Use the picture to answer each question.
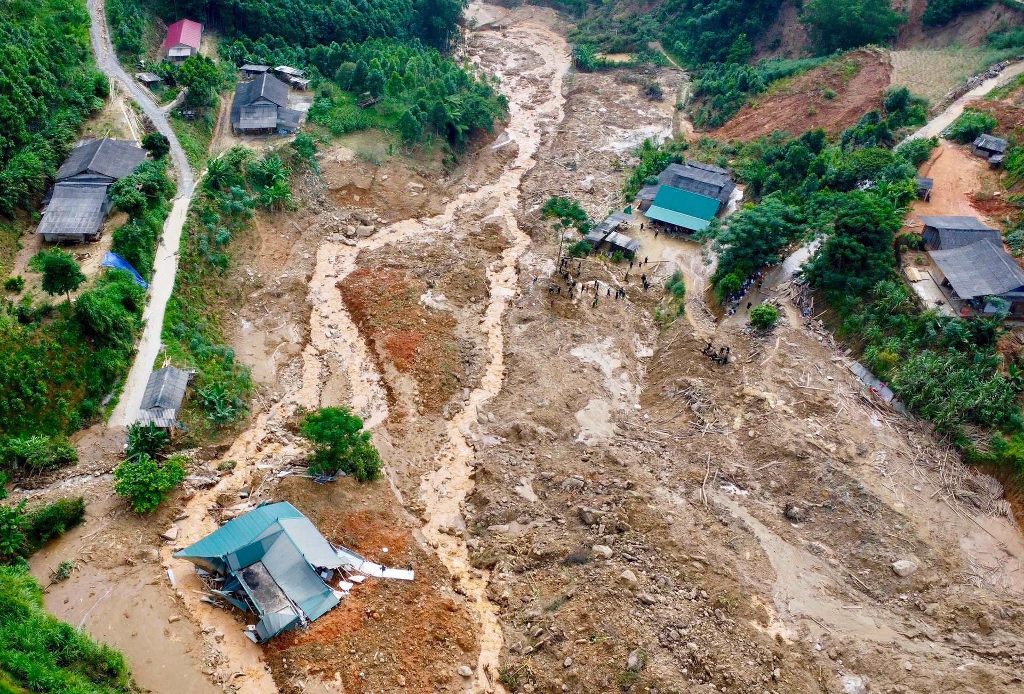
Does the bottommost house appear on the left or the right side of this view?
left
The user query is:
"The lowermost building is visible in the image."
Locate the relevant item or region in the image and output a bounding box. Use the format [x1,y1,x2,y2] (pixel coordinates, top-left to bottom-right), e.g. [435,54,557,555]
[173,501,359,643]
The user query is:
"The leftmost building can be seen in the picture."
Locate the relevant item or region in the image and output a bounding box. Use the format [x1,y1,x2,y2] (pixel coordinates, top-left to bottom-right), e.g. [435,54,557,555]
[36,137,146,244]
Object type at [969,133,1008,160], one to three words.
shed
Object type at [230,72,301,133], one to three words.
house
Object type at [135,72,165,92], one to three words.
shed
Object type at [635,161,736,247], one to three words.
house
